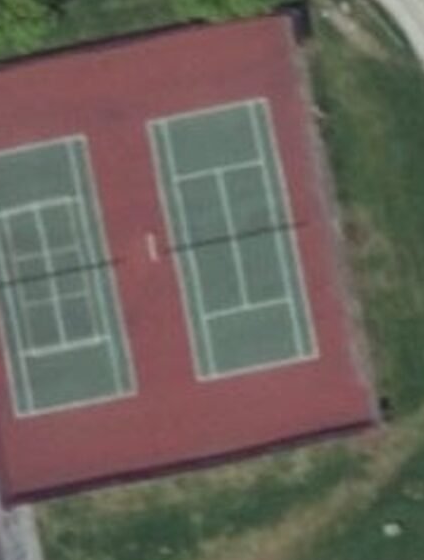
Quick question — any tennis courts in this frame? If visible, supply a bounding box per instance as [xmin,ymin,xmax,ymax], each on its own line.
[147,99,319,381]
[0,134,138,418]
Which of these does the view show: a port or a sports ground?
sports ground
